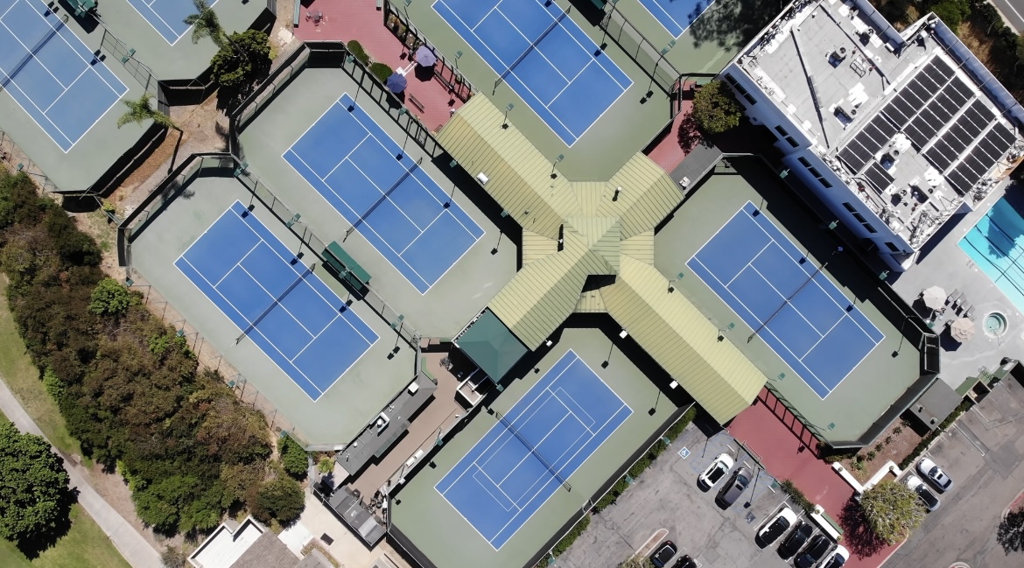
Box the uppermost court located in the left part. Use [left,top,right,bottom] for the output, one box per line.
[85,0,275,87]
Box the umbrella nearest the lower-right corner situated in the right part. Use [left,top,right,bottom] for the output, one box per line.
[949,317,972,340]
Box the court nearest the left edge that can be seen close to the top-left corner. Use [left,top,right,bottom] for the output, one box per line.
[0,0,169,193]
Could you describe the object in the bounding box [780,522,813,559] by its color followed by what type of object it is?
black car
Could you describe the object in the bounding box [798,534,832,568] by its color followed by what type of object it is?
black car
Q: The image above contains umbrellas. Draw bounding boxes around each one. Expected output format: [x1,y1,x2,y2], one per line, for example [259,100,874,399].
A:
[416,47,437,68]
[921,286,945,309]
[949,317,972,340]
[387,74,407,94]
